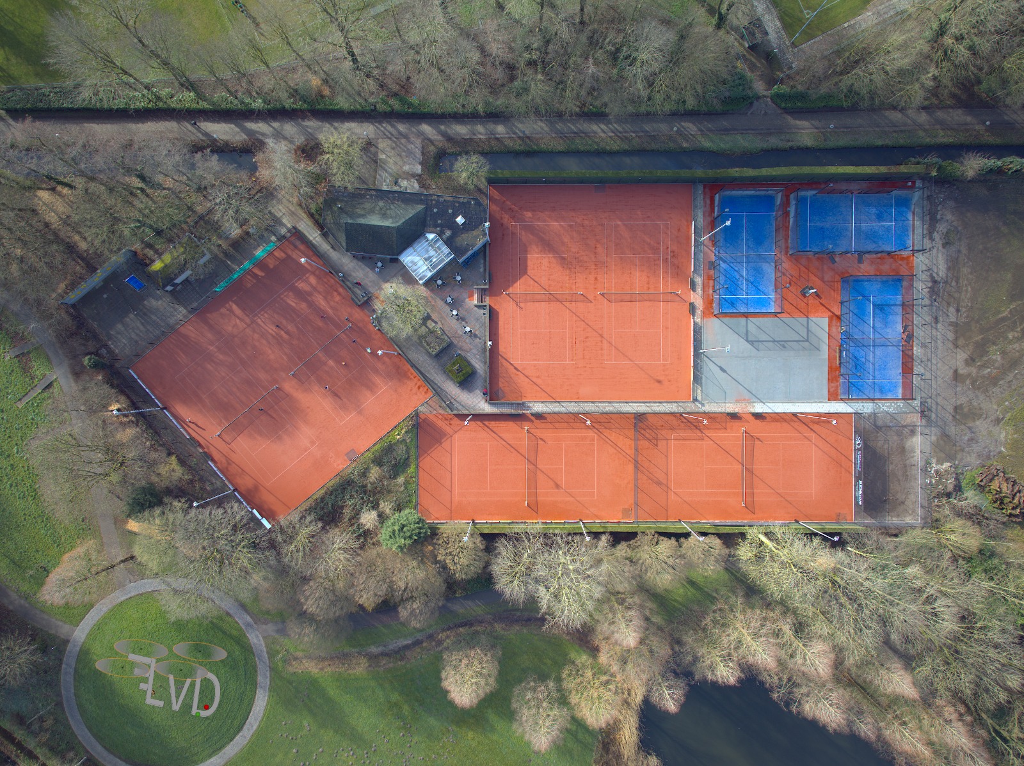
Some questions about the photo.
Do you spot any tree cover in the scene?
Yes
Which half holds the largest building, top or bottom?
top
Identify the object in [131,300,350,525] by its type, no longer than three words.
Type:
tennis court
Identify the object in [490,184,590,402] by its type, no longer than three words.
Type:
tennis court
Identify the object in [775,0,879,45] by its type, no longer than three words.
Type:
sports field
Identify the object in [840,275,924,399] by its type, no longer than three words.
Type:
sports court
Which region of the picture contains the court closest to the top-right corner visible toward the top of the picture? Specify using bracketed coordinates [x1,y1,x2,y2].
[791,182,924,255]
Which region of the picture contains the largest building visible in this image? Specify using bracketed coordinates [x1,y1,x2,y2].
[322,185,490,286]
